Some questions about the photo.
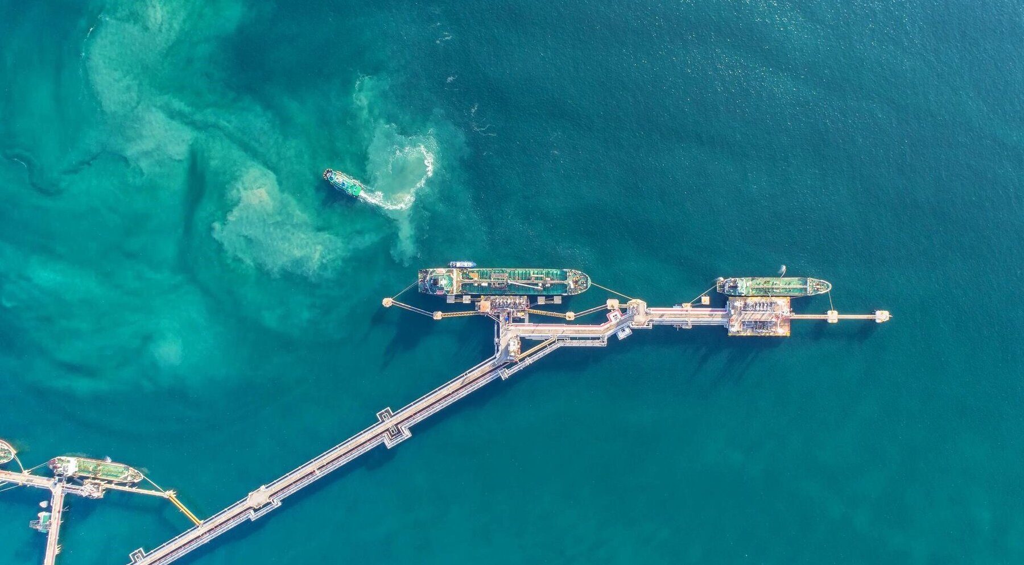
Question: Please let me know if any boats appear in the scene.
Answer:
Yes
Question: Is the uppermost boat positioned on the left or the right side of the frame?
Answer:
left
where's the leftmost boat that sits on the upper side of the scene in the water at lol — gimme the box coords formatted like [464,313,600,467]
[323,170,364,197]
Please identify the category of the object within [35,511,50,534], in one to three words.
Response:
boat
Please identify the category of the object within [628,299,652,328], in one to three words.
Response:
pier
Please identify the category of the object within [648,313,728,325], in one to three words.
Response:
pier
